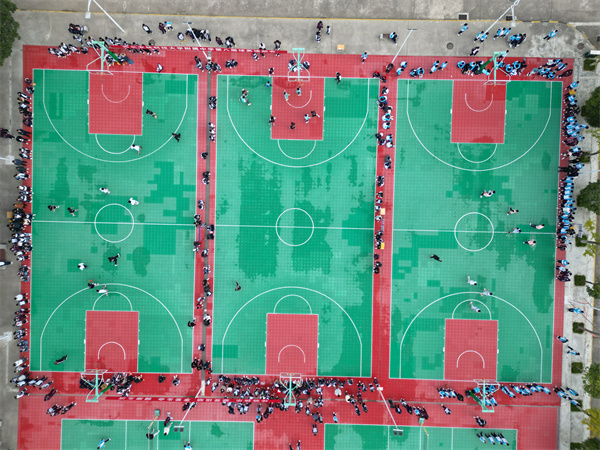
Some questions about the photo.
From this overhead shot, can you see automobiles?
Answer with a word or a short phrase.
No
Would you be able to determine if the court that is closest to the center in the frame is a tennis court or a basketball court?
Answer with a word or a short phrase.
basketball court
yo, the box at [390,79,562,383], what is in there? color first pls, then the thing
green basketball court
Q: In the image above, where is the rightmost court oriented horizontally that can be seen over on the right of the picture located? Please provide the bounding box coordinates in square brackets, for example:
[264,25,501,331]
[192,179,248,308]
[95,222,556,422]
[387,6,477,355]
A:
[324,424,517,450]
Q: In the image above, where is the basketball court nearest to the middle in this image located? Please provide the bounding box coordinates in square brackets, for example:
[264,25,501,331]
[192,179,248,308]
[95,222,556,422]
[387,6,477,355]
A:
[212,75,380,377]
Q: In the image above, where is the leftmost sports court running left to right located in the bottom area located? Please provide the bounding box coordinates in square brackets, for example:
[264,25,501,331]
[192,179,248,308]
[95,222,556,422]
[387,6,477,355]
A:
[60,418,254,450]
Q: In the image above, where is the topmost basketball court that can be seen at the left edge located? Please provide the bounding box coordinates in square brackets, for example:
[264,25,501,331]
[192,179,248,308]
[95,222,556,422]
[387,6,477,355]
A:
[30,69,197,373]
